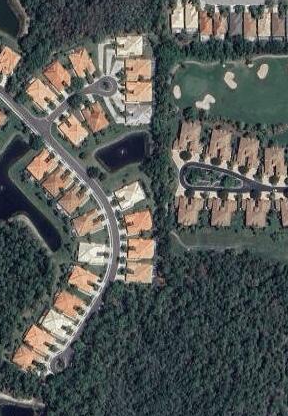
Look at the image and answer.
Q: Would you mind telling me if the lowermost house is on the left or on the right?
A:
left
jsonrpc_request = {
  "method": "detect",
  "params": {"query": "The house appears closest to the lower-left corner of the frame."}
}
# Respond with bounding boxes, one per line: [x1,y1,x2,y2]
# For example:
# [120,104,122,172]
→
[12,345,41,370]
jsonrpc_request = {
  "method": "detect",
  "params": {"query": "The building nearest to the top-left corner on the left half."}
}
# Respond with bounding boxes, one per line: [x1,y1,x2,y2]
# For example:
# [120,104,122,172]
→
[0,46,22,74]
